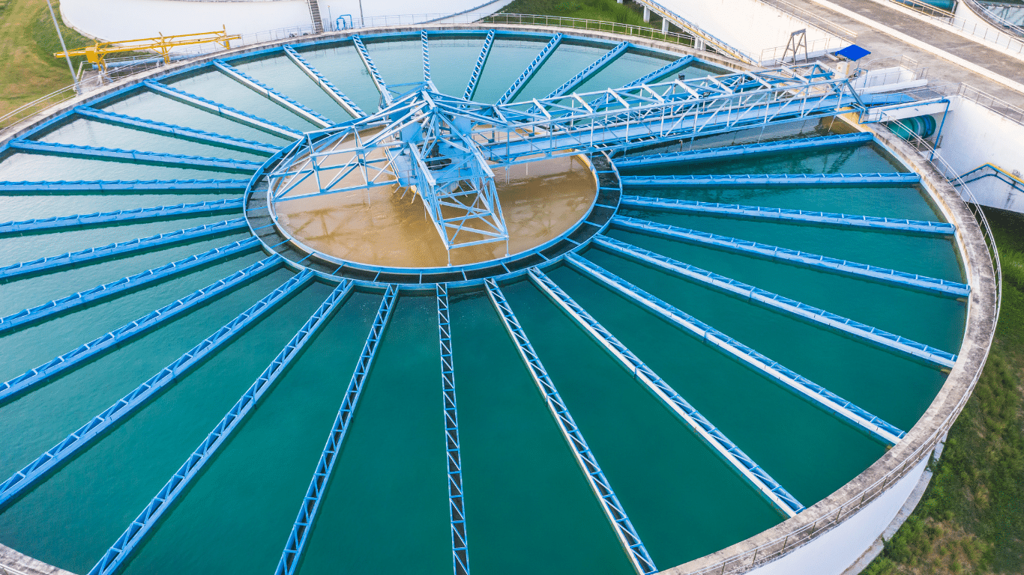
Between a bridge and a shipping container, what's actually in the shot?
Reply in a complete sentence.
It is a bridge that can be seen here.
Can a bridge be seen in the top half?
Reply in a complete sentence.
Yes, a bridge can be seen in the top half.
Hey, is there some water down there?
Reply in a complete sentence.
Yes, the picture does contain water.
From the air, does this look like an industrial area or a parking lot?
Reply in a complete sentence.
This looks like an industrial area.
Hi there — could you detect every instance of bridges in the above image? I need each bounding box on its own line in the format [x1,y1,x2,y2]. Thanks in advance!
[460,59,871,186]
